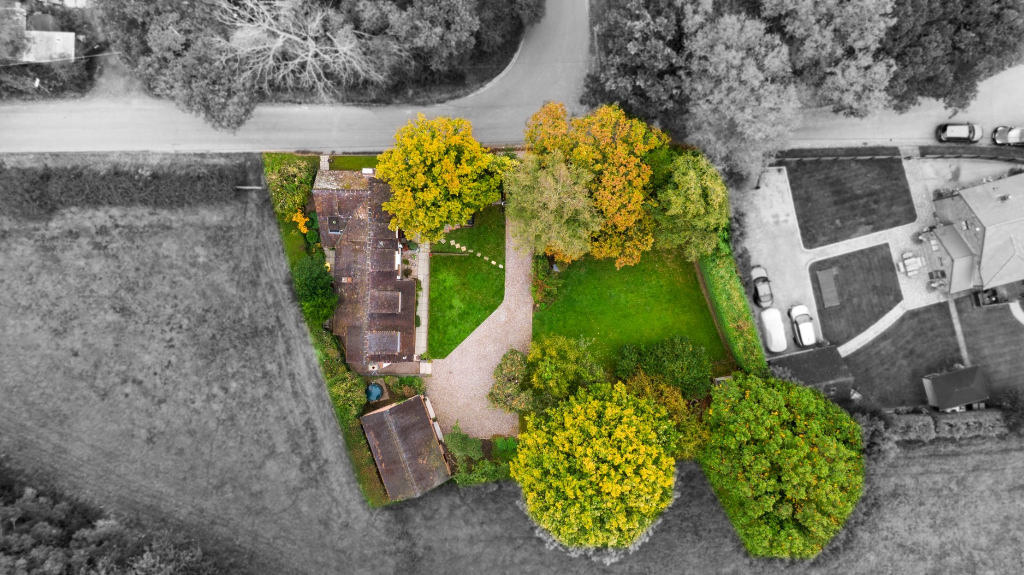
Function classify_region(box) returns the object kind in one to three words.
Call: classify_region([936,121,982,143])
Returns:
car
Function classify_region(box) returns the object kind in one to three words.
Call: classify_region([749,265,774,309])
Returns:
car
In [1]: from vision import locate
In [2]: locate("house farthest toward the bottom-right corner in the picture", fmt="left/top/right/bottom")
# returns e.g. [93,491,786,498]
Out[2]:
[919,364,990,412]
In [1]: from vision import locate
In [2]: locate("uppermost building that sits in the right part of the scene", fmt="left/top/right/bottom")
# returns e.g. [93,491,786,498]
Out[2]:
[920,173,1024,295]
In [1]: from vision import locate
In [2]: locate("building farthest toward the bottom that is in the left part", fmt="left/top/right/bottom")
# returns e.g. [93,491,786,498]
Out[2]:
[360,394,452,501]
